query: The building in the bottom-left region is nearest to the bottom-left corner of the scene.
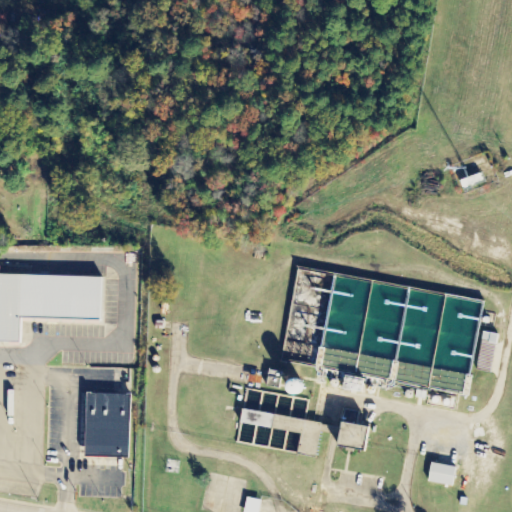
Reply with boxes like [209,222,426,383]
[85,392,132,458]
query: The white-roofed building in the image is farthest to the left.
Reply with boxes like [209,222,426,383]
[0,274,106,343]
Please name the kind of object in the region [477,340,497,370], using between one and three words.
shed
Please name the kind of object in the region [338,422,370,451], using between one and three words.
building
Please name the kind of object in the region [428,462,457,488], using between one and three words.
building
